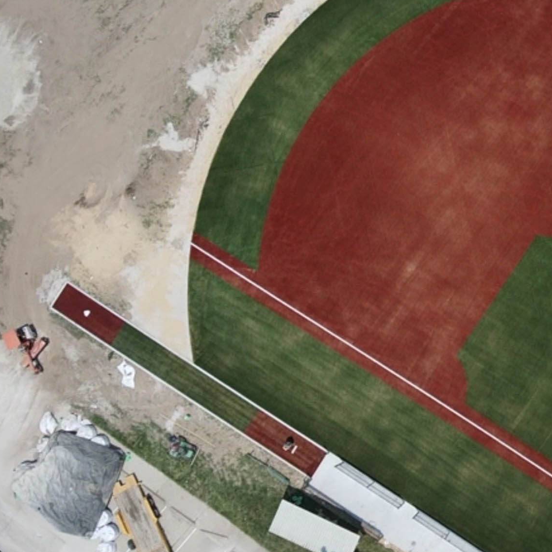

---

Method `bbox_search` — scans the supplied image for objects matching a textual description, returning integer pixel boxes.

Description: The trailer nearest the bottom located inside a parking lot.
[108,473,169,552]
